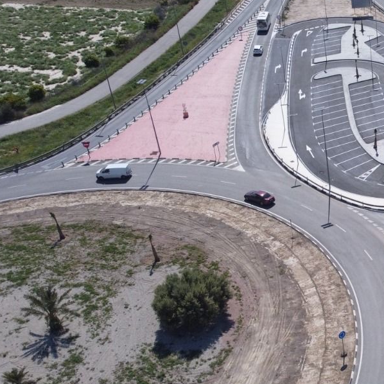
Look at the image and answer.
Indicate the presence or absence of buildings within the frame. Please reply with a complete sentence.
No, there is no building in the image.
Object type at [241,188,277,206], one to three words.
car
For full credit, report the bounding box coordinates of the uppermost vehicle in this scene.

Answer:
[255,7,271,29]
